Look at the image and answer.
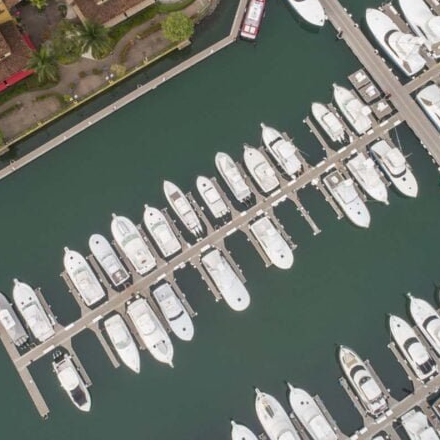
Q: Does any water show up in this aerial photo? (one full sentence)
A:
Yes, some water is visible.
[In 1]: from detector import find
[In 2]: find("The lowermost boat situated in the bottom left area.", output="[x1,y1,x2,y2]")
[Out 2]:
[52,352,90,414]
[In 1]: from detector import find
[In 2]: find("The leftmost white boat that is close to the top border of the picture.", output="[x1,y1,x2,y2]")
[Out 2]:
[240,0,264,40]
